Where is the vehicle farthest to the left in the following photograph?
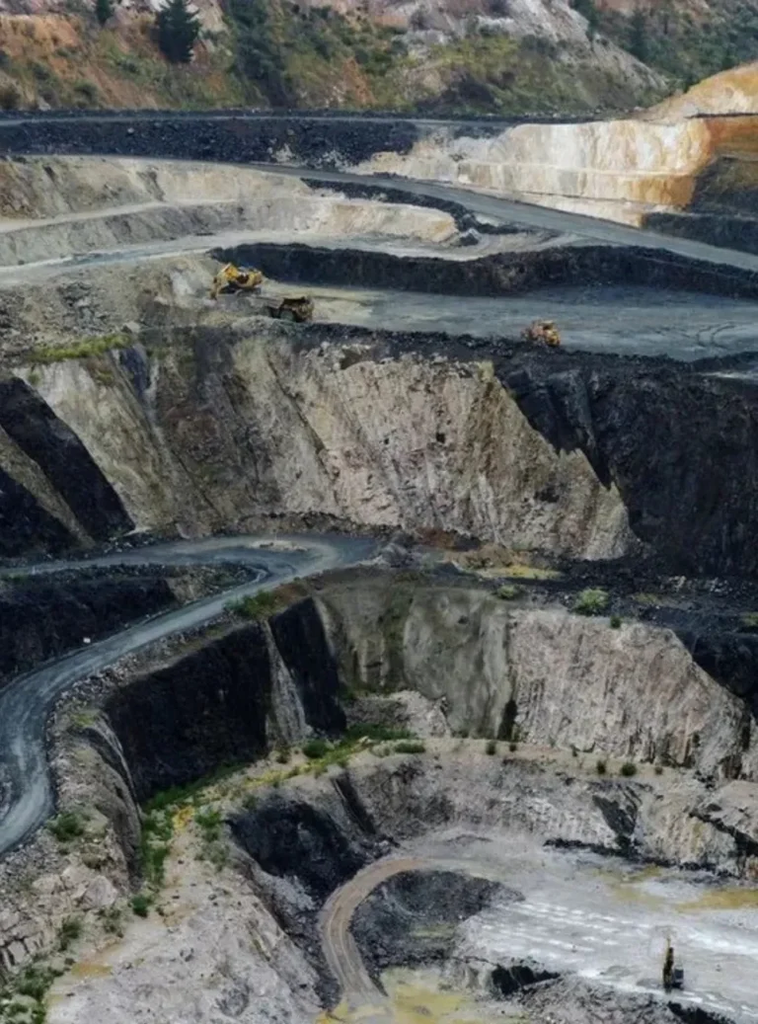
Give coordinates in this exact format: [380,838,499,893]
[208,264,269,299]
